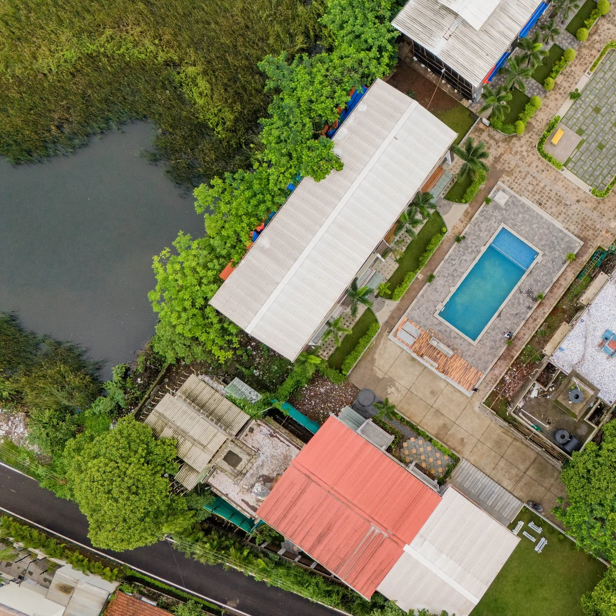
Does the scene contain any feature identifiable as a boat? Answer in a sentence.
No, I can't see a single boat in this photo.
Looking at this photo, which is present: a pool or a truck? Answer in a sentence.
Looking from above, you can make out a pool.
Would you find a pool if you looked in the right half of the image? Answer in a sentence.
Yes, a pool appears in the right half of the image.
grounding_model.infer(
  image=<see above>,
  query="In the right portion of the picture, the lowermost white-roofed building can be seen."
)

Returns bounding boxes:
[376,484,522,616]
